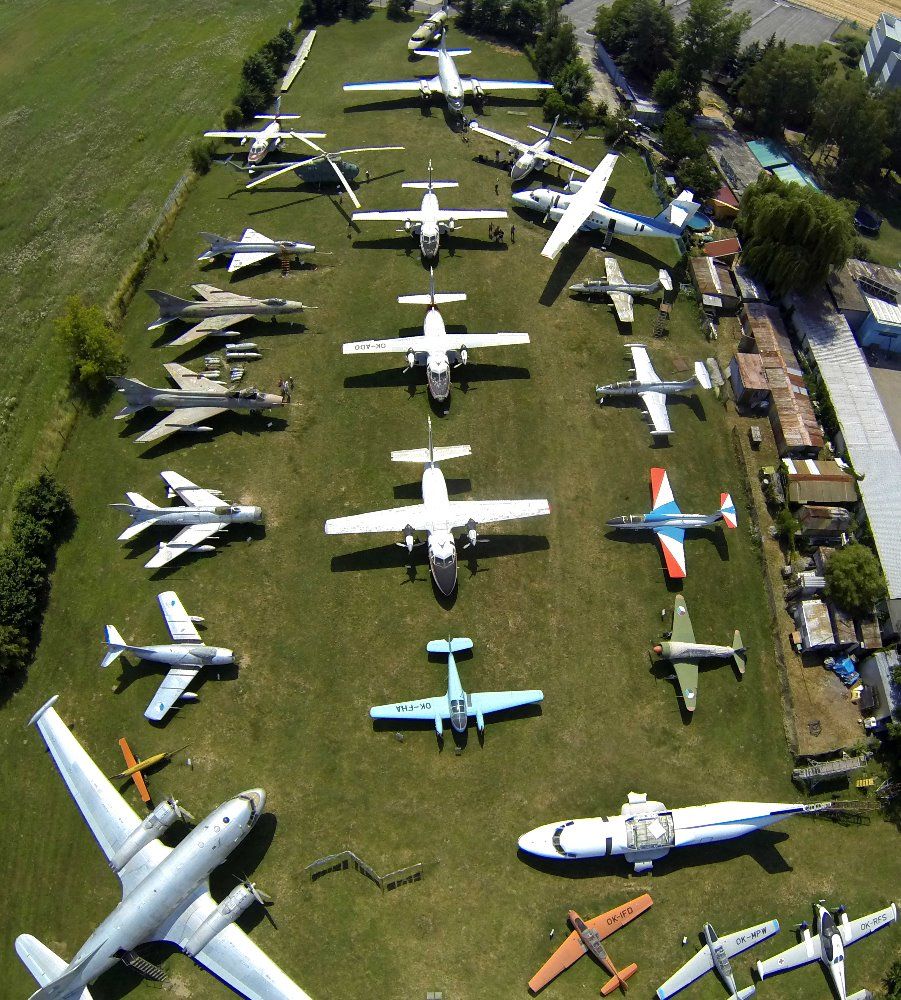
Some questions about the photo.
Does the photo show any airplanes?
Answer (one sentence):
Yes, looking at the shot, I can spot an airplane.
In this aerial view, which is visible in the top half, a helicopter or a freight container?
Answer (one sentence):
The one visible in the top half is a helicopter.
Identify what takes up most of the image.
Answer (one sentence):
The largest share of the image is taken up by grass.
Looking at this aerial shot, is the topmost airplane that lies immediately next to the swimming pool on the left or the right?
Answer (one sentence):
It is on the right.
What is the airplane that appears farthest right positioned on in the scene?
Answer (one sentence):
The airplane that appears farthest right is on the grass.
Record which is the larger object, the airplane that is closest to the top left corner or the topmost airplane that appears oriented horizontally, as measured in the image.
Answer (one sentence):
The topmost airplane that appears oriented horizontally takes up more space than the airplane that is closest to the top left corner.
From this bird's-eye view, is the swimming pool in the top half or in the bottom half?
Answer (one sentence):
It is in the top half that the swimming pool appears.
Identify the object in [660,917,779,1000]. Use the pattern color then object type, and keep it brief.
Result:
white airplane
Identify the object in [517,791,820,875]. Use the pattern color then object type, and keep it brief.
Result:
white airplane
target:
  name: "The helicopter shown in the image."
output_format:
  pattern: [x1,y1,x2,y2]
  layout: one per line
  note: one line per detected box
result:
[218,133,405,211]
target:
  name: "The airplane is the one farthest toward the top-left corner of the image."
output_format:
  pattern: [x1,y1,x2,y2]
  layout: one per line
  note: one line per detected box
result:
[202,87,327,164]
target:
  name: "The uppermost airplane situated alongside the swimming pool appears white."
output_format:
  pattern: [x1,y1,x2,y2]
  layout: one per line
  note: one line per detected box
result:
[512,152,700,257]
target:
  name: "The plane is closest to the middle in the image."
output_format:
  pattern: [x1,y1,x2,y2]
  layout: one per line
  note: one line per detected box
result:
[325,424,551,596]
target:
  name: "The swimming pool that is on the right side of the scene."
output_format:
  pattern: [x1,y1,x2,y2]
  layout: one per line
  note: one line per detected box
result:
[679,214,717,243]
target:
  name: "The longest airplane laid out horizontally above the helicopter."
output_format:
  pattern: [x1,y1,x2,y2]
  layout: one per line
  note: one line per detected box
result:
[343,23,555,120]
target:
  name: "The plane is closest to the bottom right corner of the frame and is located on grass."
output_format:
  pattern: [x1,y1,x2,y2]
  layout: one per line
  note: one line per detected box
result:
[762,901,896,1000]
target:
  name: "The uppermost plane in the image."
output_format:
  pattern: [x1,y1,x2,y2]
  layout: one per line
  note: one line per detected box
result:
[408,0,447,53]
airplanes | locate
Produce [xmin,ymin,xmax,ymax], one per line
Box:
[606,469,739,578]
[762,901,896,1000]
[108,472,263,568]
[653,597,756,711]
[109,363,303,442]
[199,229,332,271]
[569,258,673,322]
[343,271,530,401]
[517,791,820,875]
[469,105,595,183]
[19,695,309,1000]
[512,152,700,257]
[343,23,555,120]
[202,87,327,164]
[325,424,551,596]
[371,637,542,740]
[596,345,711,435]
[530,895,652,994]
[408,0,447,53]
[146,284,311,345]
[352,157,508,259]
[101,592,237,719]
[660,917,779,1000]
